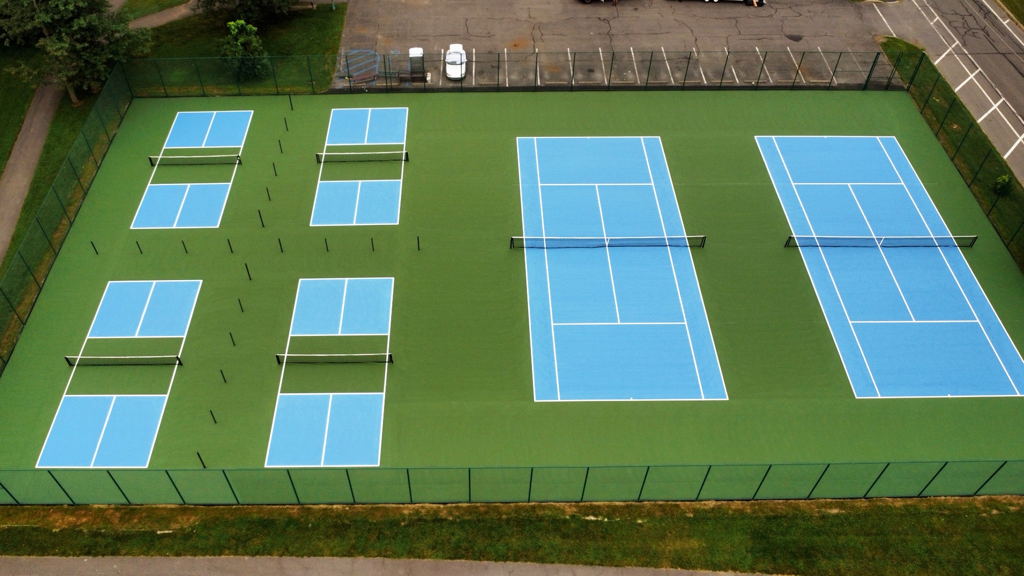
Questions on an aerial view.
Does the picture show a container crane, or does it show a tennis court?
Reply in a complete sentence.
The image shows a tennis court.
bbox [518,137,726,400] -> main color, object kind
blue tennis court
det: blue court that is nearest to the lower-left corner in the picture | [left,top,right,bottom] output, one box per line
[35,280,202,468]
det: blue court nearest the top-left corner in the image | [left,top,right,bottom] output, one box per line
[131,110,253,229]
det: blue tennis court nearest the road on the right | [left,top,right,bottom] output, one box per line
[755,135,1024,397]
